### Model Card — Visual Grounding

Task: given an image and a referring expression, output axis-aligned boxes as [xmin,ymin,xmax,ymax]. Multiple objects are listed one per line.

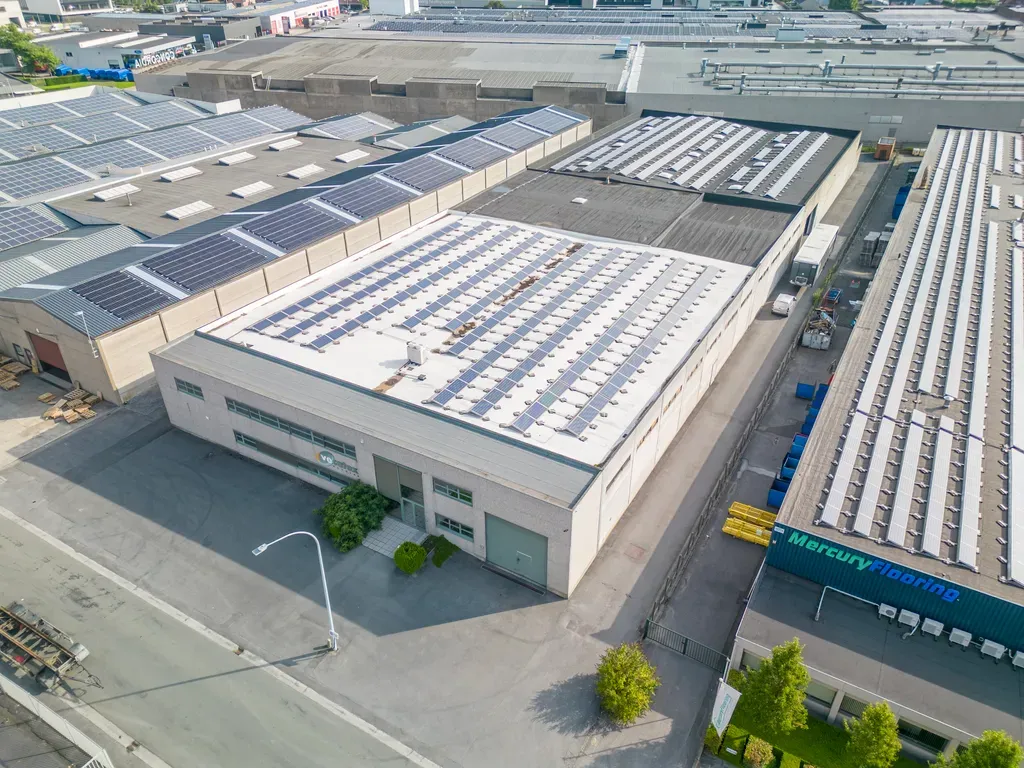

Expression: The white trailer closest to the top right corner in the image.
[787,223,839,294]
